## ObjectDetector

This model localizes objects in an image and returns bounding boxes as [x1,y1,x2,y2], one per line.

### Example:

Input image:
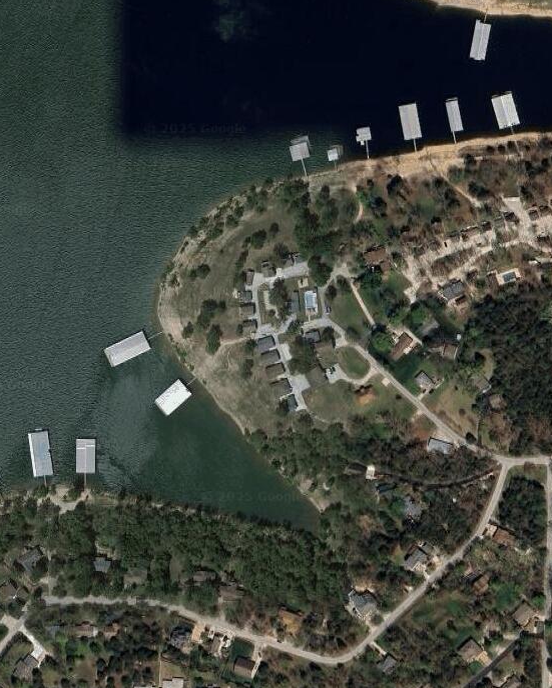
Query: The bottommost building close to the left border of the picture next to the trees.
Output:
[14,661,44,682]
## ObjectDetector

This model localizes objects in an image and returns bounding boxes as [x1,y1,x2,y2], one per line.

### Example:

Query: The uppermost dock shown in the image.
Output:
[470,11,491,61]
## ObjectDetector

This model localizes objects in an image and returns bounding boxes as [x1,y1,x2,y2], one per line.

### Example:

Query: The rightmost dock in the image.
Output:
[492,91,519,134]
